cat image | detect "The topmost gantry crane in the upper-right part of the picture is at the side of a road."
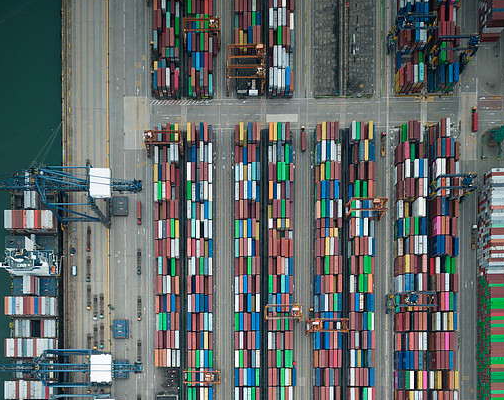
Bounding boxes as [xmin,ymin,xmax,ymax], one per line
[387,13,437,55]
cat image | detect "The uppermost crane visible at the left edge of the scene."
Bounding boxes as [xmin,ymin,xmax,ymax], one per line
[0,165,143,230]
